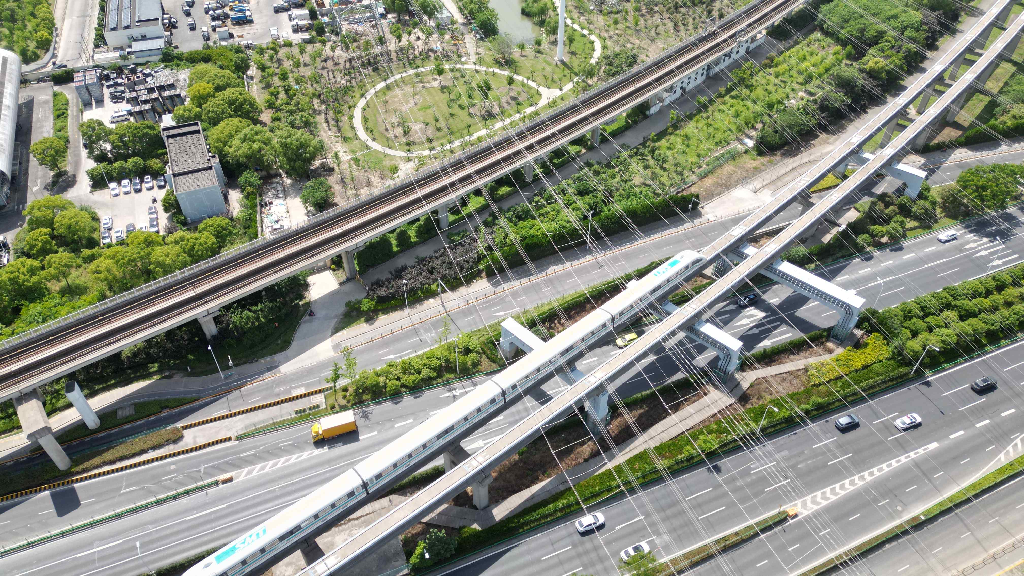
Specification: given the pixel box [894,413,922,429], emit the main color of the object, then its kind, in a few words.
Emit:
white car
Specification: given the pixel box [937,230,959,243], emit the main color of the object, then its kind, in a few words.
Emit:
white vehicle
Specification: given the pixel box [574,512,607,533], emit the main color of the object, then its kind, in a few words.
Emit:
white car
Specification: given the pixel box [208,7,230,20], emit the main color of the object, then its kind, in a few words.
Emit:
gray vehicle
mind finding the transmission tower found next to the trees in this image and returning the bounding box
[337,0,389,51]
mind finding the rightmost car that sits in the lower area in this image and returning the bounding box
[970,378,998,394]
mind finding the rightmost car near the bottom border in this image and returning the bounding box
[619,540,652,561]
